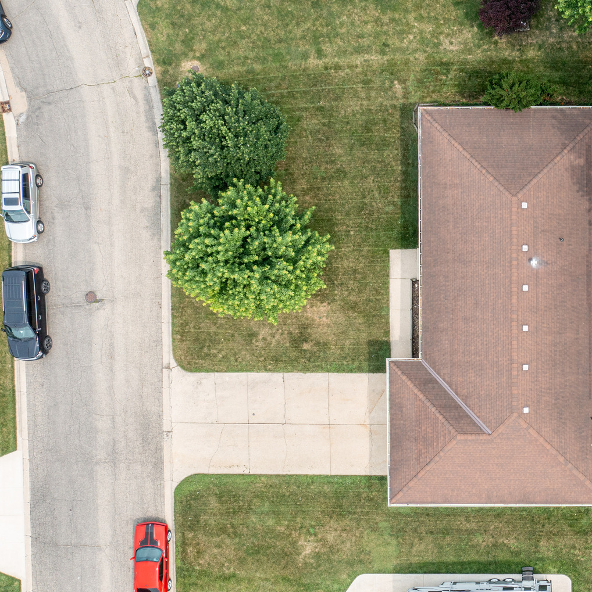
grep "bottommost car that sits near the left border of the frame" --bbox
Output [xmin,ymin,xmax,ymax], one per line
[2,264,55,361]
